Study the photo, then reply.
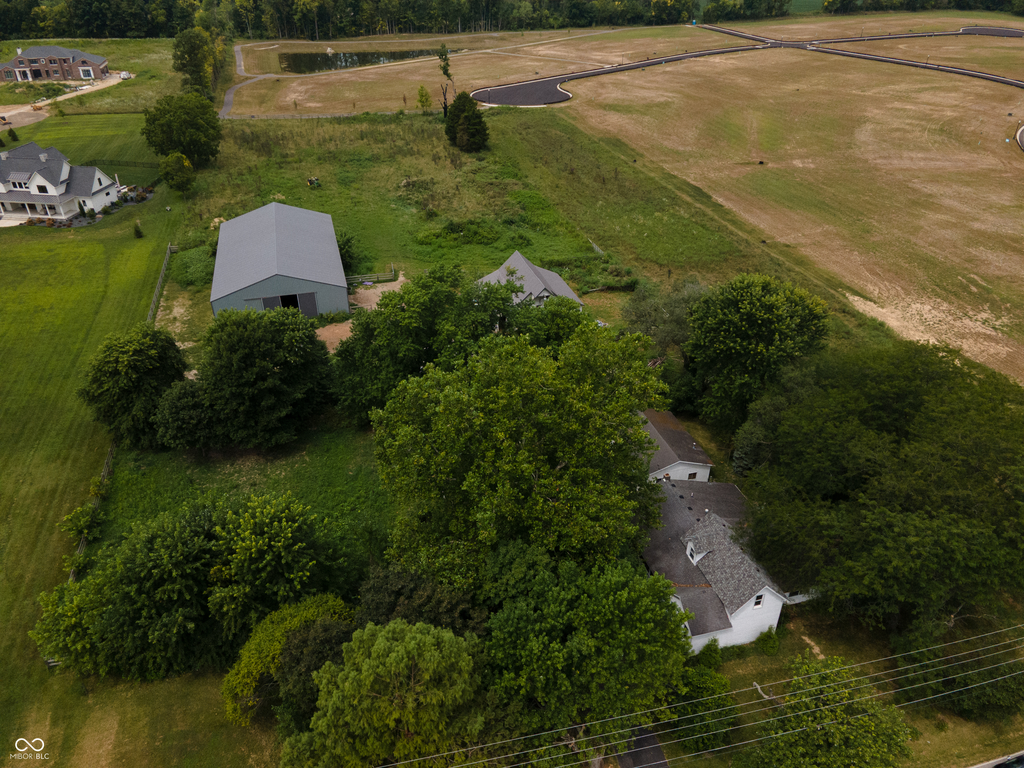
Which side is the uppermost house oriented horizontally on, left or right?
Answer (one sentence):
You can find the uppermost house oriented horizontally on the left side of the picture.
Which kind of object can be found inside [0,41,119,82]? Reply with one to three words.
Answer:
house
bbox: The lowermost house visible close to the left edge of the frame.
[0,139,118,222]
